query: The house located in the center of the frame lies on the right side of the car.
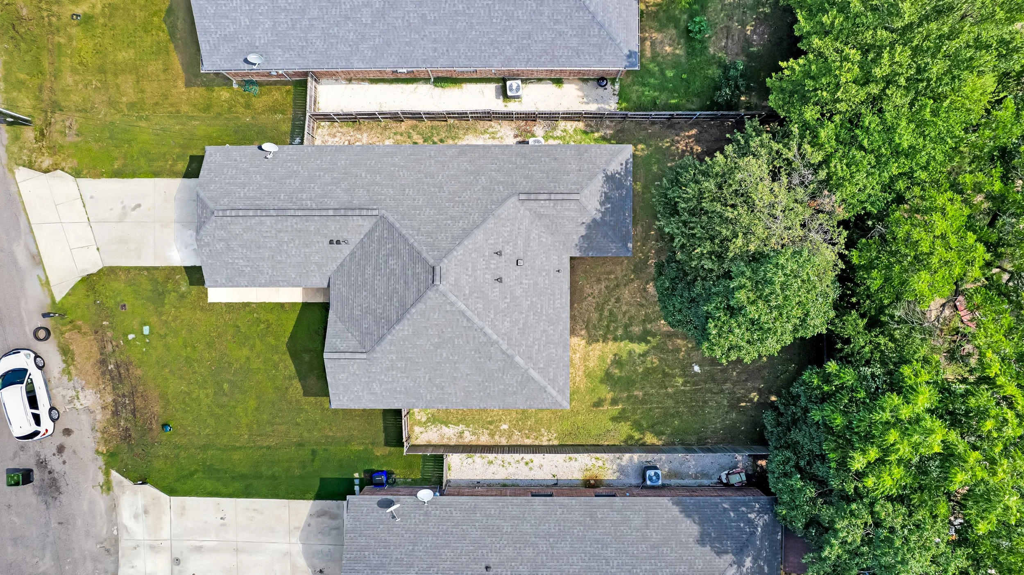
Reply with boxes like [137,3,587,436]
[192,143,634,410]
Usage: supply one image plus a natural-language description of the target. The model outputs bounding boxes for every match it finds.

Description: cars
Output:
[0,347,60,443]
